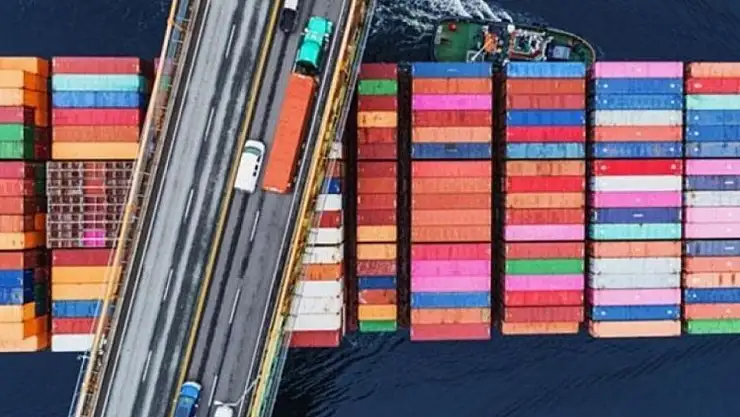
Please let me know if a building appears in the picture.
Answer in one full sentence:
No, there appears to be no building in this shot.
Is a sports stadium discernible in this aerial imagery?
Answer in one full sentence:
No, no sports stadium can be seen from above.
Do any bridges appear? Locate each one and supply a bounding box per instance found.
[63,0,381,417]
